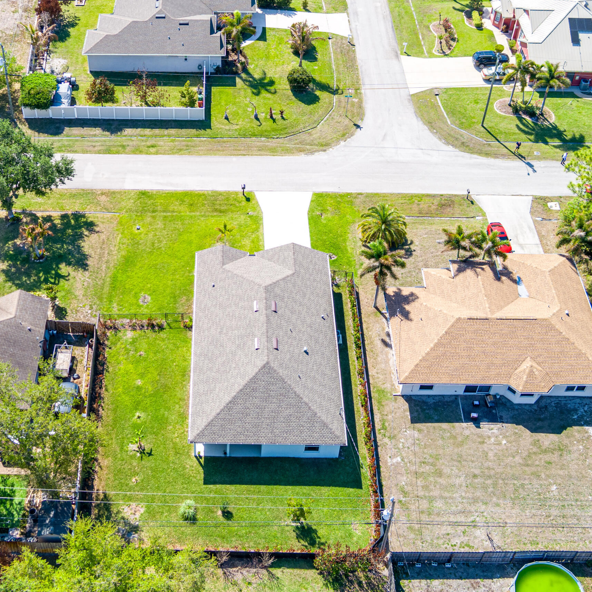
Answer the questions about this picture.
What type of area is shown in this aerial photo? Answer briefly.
residential area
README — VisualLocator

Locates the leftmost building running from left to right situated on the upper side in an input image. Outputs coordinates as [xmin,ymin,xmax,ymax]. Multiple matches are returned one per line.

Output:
[81,0,257,76]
